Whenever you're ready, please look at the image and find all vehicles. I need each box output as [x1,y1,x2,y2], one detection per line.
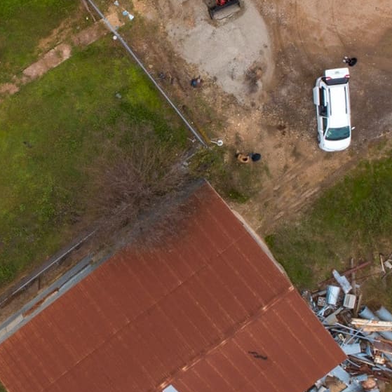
[316,70,357,153]
[207,0,241,19]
